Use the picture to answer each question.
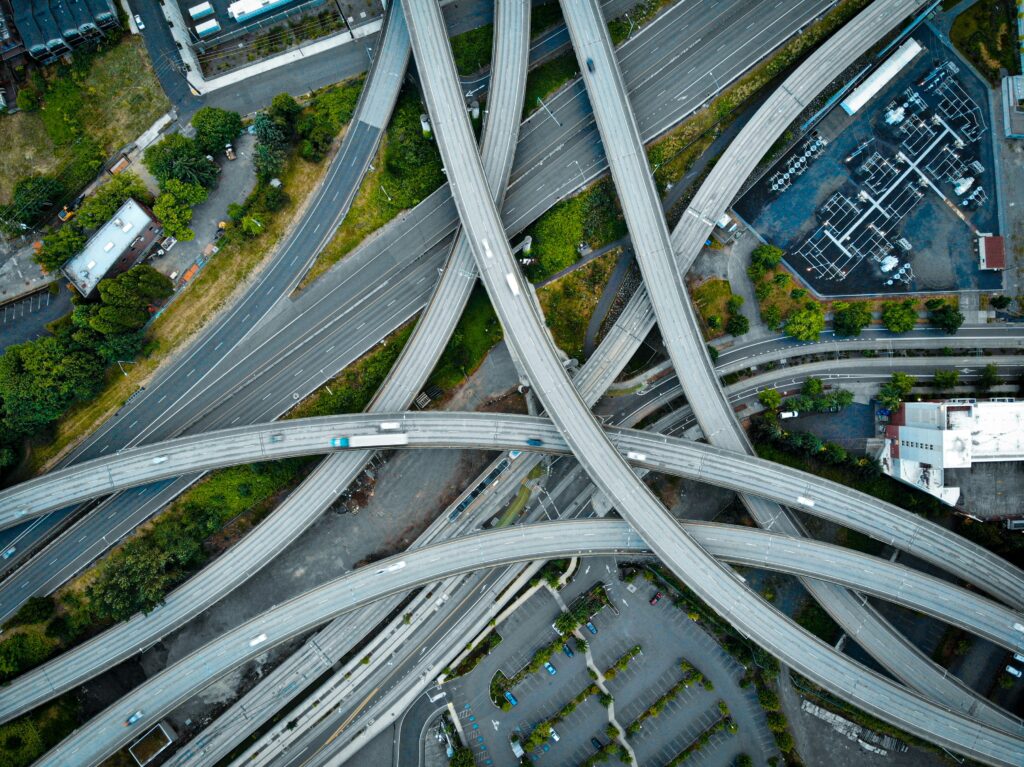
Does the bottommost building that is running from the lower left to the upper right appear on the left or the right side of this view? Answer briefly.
left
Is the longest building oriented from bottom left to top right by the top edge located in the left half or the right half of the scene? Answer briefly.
right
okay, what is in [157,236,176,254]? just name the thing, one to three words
vehicle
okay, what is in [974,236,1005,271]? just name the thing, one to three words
building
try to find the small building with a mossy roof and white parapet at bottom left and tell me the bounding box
[128,715,180,767]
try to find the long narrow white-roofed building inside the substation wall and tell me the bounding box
[836,38,922,117]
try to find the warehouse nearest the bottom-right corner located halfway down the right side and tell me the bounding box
[875,398,1024,518]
